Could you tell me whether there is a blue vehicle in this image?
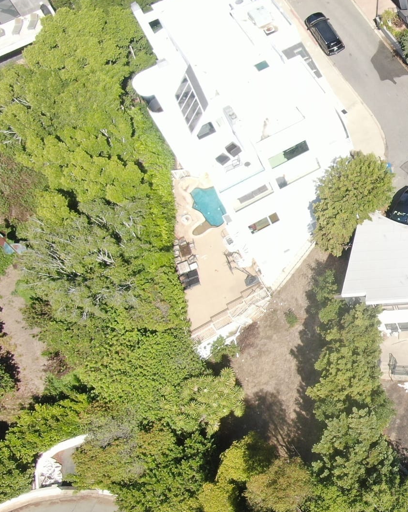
No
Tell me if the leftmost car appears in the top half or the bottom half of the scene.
top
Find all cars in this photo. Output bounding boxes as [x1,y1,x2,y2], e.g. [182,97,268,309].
[306,14,342,53]
[383,180,408,225]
